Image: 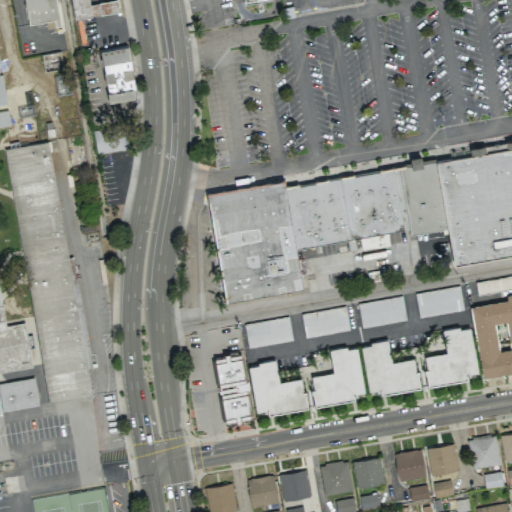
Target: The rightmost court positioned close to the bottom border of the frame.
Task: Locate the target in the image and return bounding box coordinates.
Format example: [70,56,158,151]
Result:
[69,489,108,512]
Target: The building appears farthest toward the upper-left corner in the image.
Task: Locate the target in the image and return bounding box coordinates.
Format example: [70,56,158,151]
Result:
[28,0,64,34]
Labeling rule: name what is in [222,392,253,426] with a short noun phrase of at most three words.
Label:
building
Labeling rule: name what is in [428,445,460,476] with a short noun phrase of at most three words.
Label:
house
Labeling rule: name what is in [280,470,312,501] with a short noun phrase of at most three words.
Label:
house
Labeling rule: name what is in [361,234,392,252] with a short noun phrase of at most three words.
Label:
shed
